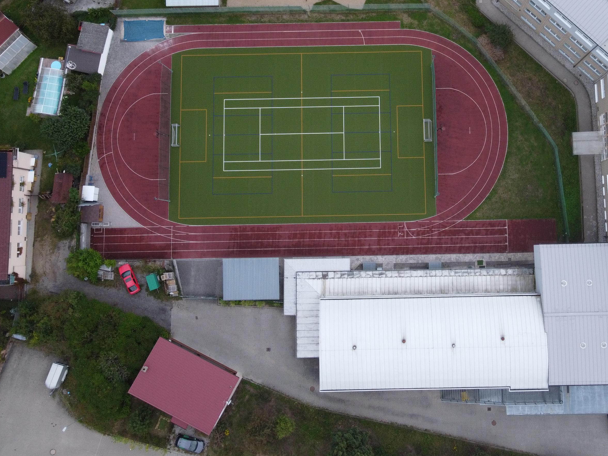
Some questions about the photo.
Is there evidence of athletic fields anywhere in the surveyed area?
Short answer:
Yes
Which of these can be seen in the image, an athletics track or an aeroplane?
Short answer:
athletics track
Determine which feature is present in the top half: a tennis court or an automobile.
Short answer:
tennis court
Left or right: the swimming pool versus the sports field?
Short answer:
on the left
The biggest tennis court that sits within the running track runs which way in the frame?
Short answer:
from side to side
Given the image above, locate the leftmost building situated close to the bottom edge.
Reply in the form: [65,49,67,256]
[124,336,240,435]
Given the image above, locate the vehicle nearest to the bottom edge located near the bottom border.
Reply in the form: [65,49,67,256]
[175,433,206,454]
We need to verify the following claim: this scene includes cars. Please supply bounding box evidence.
[120,263,140,295]
[175,433,206,454]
